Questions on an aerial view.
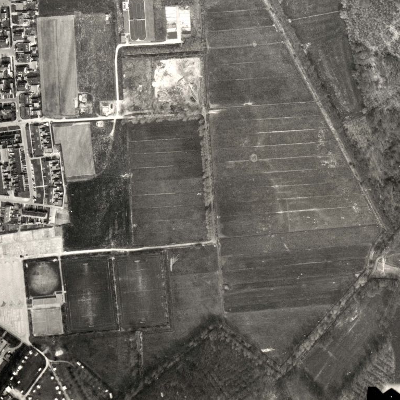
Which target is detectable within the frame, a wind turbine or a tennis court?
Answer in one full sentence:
Of the two, only a tennis court appears.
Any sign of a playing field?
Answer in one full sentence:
Yes, the photo shows a playing field.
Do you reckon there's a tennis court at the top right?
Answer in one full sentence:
No, at the top right there is no tennis court.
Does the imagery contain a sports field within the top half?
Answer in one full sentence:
No, looking within the top half, there is no sports field.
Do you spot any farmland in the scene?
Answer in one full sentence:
Yes, there is farmland in the image.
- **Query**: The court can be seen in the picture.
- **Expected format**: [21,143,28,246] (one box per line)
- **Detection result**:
[32,293,62,336]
